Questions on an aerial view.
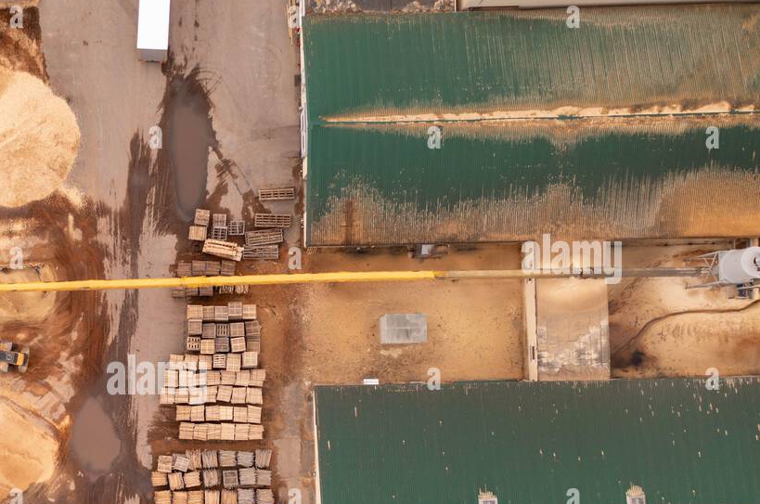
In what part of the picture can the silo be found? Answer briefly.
right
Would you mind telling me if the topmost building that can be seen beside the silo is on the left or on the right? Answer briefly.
right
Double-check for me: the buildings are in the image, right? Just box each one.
[295,6,760,248]
[310,374,760,504]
